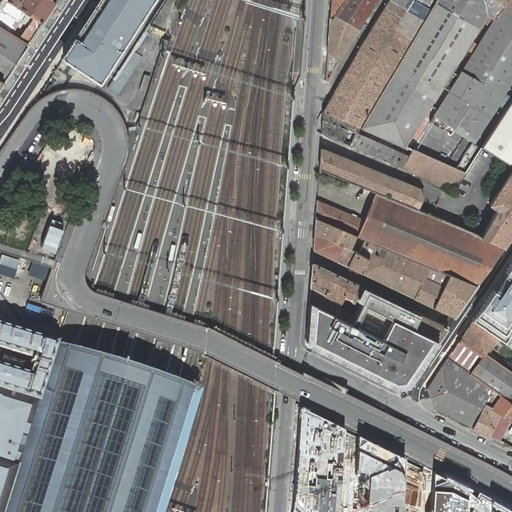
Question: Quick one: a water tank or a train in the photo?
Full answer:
There is a train in the scene.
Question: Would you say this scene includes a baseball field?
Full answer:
No, this view has no baseball field in it.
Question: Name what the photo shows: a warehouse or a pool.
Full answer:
There is a warehouse in the scene.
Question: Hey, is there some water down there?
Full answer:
No, the scene doesn't show any water.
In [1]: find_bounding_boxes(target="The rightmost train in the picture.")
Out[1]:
[164,234,188,314]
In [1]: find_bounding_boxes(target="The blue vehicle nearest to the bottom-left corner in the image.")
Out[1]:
[24,302,52,316]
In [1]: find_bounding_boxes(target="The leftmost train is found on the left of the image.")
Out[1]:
[138,238,159,304]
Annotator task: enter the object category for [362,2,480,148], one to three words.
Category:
warehouse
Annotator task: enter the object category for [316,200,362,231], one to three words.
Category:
house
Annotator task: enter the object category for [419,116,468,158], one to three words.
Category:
building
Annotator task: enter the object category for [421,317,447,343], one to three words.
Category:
shed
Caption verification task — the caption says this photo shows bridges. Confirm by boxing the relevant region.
[70,288,512,508]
